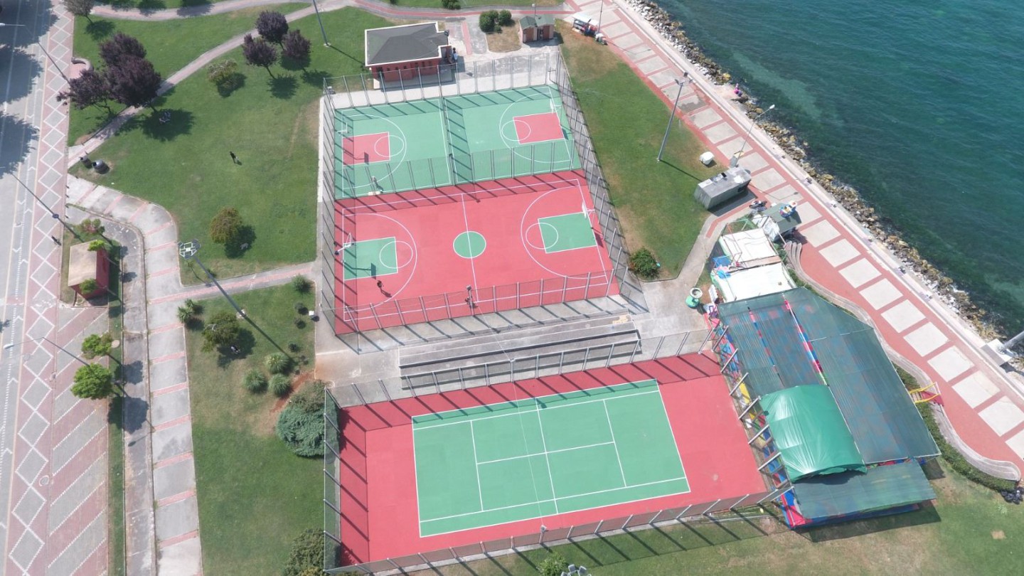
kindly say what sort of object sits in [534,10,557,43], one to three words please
building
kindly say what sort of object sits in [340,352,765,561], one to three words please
tennis court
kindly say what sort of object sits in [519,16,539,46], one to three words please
building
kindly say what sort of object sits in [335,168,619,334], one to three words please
basketball court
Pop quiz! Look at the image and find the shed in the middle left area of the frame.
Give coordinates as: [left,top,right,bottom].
[68,239,110,297]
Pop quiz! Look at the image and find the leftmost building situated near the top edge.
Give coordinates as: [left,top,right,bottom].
[364,20,452,89]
